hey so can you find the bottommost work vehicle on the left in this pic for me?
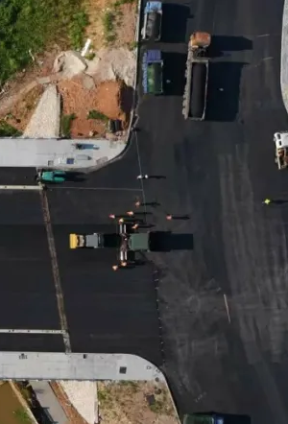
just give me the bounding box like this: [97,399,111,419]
[70,235,105,249]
